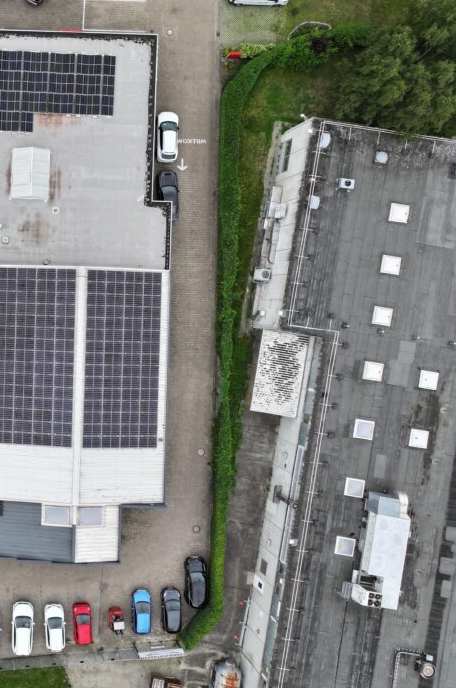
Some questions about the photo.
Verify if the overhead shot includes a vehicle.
Yes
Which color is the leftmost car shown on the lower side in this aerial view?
white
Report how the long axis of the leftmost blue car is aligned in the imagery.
vertically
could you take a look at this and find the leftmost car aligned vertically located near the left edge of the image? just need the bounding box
[10,600,36,659]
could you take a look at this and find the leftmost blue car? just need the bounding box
[130,587,154,635]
